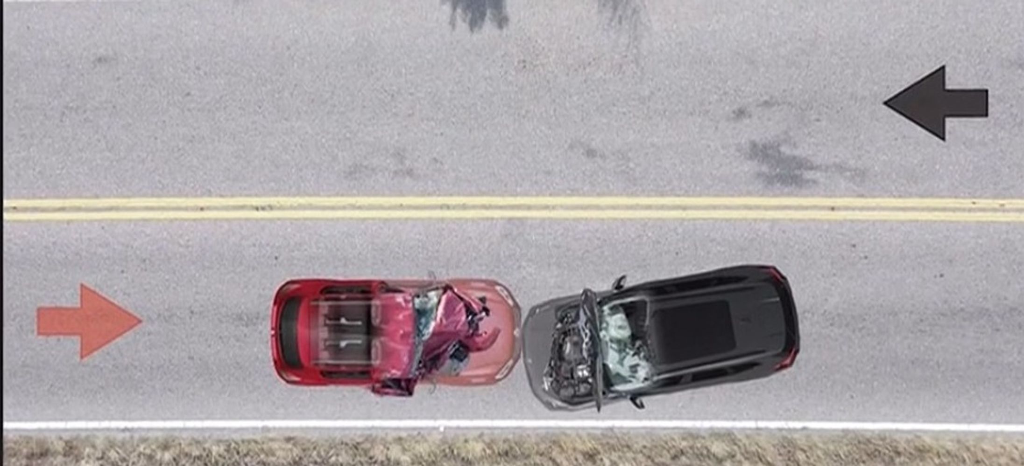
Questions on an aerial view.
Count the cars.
two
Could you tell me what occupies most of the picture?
paved ground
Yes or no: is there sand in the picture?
No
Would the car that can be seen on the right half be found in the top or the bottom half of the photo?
bottom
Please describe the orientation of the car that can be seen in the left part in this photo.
horizontally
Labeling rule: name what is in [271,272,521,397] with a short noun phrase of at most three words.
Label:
car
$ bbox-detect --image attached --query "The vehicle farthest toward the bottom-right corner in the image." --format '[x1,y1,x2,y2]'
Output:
[521,265,802,414]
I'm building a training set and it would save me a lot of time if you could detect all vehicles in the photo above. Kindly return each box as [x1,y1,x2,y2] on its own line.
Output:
[521,265,802,414]
[271,272,521,397]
